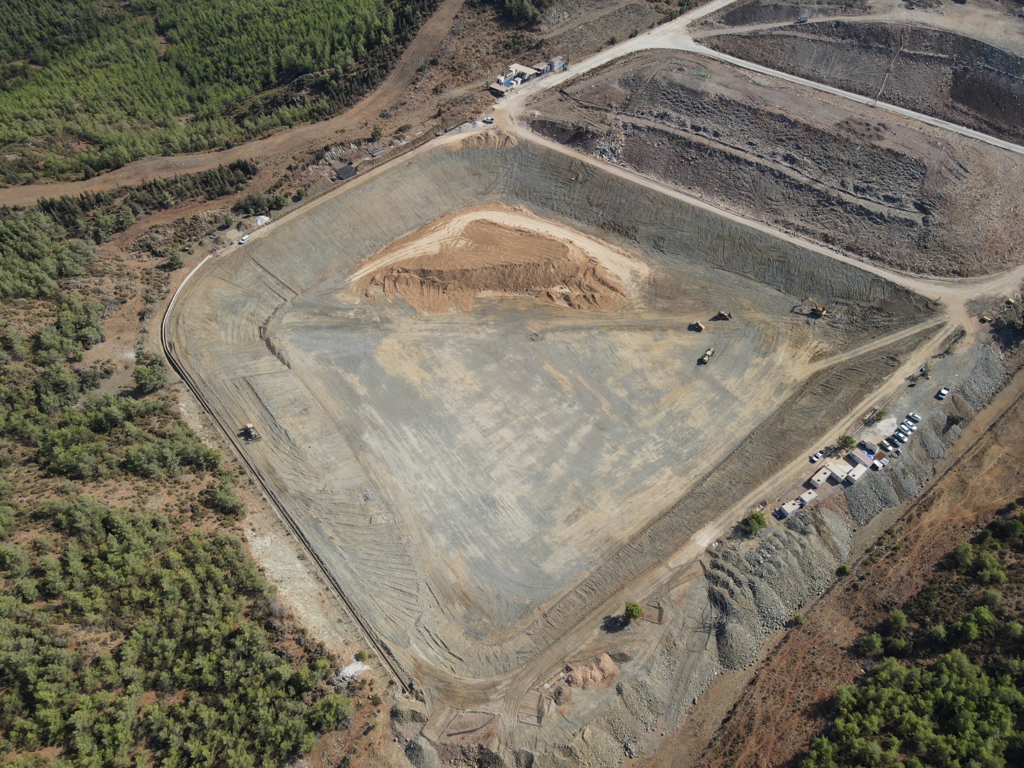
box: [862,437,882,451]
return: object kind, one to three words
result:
vehicle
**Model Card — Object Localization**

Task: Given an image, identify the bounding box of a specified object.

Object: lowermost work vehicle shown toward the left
[244,424,258,439]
